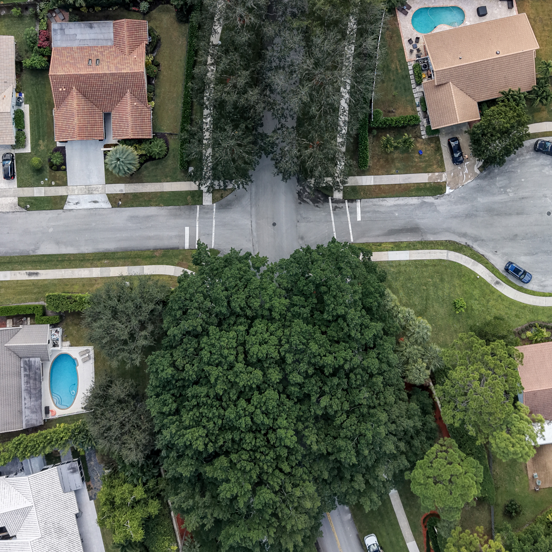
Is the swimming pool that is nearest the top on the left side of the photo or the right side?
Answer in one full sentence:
The swimming pool that is nearest the top is on the right side of the image.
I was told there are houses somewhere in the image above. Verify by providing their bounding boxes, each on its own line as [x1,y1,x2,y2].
[421,12,540,130]
[49,19,153,141]
[0,36,20,144]
[0,323,55,432]
[512,340,552,450]
[0,451,90,552]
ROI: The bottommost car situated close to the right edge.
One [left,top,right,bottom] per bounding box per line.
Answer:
[501,260,534,285]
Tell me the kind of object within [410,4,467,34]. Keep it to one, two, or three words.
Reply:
swimming pool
